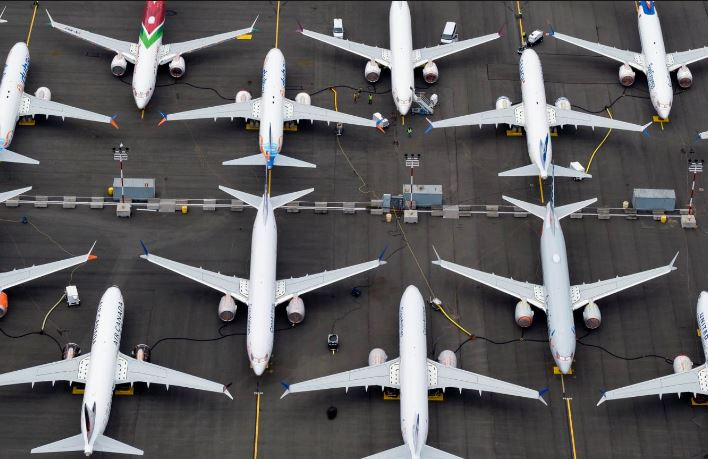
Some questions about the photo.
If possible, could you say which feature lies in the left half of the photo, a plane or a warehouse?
plane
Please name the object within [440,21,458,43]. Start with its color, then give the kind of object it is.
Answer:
white vehicle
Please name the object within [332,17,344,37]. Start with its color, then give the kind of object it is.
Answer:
white vehicle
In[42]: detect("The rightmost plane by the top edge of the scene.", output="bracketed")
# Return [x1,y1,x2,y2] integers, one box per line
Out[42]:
[546,0,708,118]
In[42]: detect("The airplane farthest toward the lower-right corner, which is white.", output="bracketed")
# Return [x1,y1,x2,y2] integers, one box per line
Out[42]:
[597,289,708,410]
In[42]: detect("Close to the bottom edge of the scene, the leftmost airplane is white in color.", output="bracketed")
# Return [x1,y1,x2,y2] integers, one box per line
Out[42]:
[0,285,234,457]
